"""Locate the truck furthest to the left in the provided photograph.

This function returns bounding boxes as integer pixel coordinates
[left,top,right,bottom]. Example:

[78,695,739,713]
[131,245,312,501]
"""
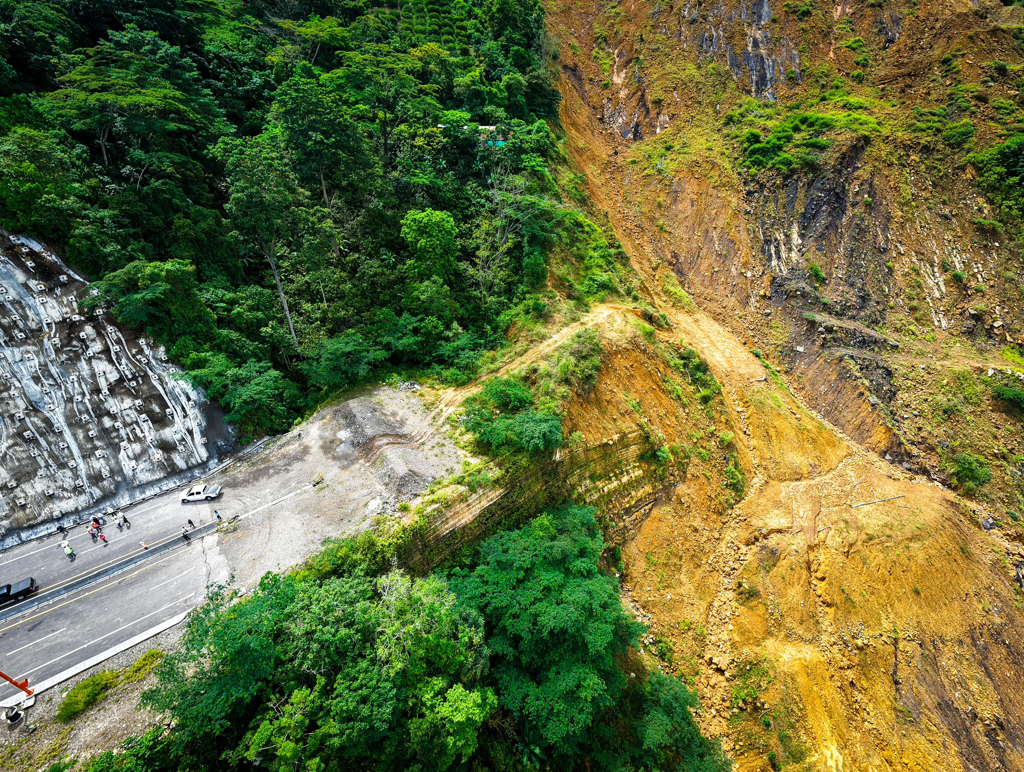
[0,576,32,606]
